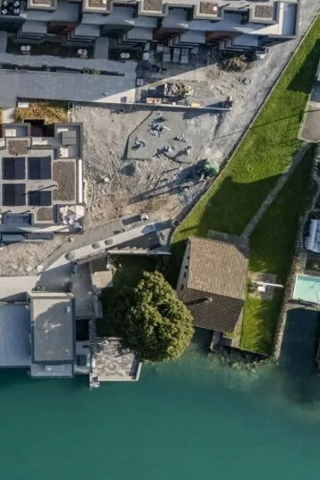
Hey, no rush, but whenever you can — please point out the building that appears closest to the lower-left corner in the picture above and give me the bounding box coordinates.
[27,288,75,376]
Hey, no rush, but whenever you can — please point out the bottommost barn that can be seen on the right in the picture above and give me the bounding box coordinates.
[178,237,248,332]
